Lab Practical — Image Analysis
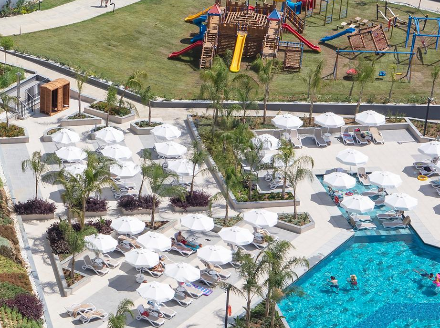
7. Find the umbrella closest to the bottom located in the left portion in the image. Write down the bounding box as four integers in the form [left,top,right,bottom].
[135,282,173,303]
